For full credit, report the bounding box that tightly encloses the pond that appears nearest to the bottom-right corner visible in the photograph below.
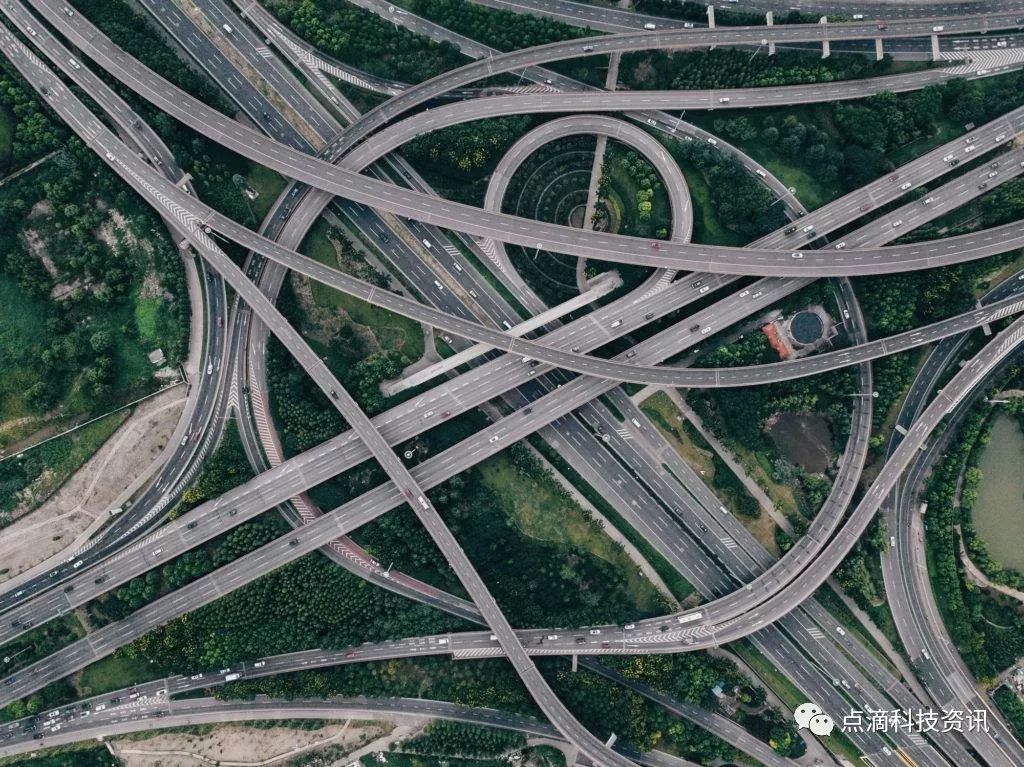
[972,406,1024,572]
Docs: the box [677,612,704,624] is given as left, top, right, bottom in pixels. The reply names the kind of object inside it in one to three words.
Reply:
vehicle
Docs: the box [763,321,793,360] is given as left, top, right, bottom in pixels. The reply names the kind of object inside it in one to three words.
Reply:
building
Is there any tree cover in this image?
Yes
